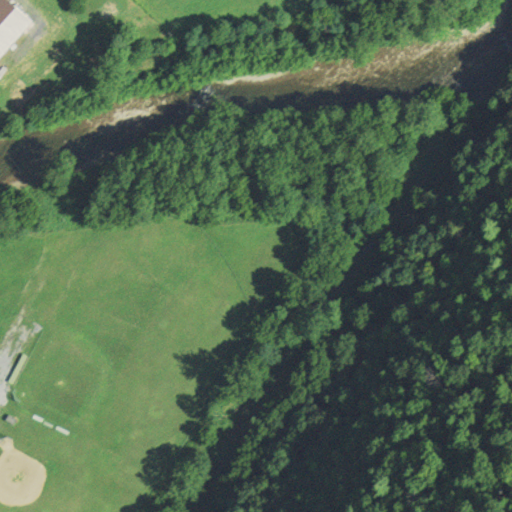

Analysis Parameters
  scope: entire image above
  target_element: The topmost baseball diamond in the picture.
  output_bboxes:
[19,318,114,422]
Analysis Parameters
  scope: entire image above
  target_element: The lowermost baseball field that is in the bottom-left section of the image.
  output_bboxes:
[0,436,48,508]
